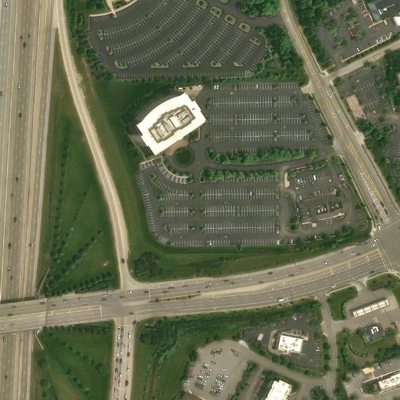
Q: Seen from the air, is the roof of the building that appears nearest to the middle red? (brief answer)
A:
No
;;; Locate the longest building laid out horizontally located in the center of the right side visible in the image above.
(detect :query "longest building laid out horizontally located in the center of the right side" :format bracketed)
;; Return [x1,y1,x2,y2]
[300,201,345,224]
